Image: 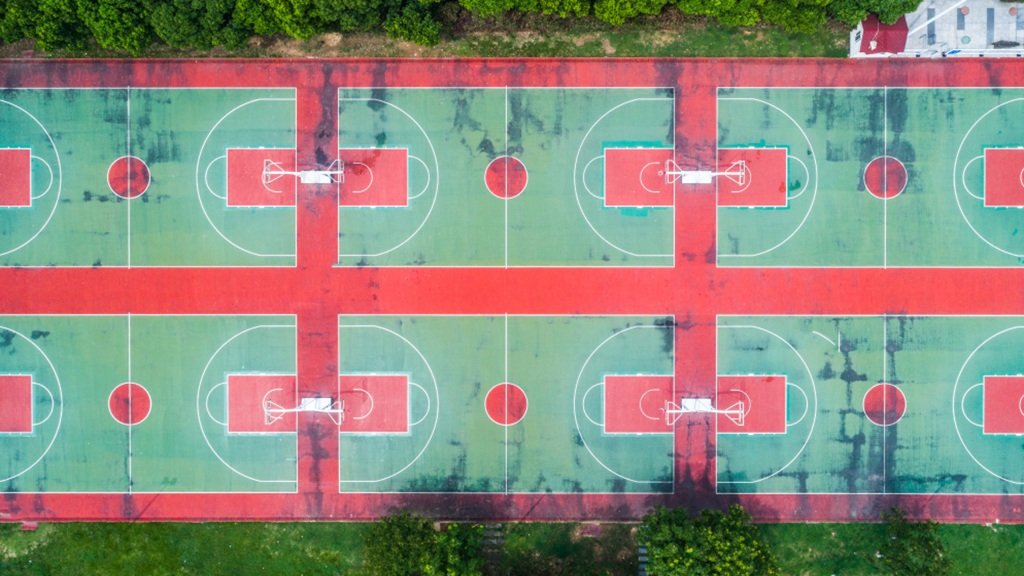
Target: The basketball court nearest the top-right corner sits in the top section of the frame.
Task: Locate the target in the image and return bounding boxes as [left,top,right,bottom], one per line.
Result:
[717,87,1024,268]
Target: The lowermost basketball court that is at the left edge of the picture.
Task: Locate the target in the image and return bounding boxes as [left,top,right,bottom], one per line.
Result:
[0,313,297,494]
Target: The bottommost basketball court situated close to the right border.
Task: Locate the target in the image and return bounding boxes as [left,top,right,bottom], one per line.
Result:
[716,315,1024,495]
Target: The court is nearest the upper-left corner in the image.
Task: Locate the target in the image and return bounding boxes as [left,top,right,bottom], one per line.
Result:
[0,86,297,268]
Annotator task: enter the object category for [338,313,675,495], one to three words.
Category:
basketball court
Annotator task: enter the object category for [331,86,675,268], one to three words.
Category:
basketball court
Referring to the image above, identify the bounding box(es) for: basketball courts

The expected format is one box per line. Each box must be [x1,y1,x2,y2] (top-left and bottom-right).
[717,87,1024,268]
[331,86,675,268]
[338,313,675,495]
[716,315,1024,495]
[0,313,297,494]
[0,86,297,268]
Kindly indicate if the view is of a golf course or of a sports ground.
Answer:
sports ground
